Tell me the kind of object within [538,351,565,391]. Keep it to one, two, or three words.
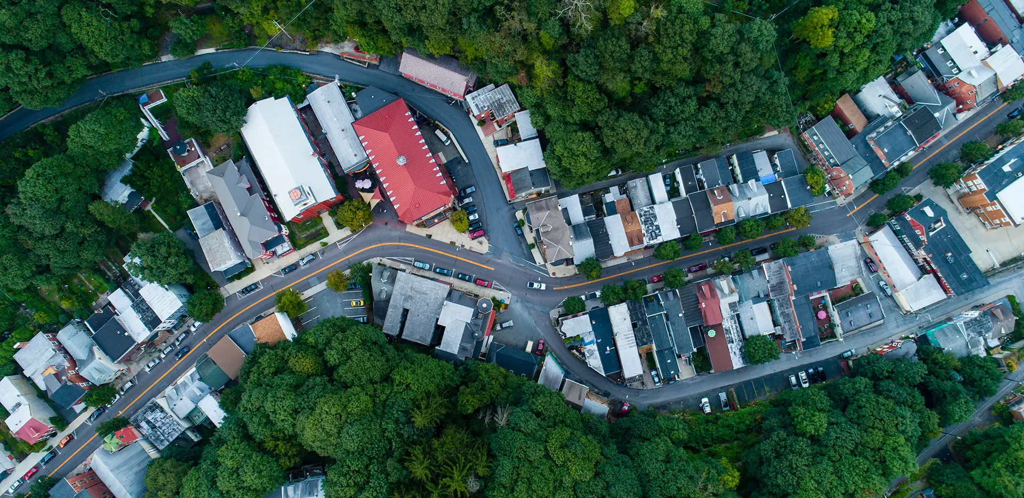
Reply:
shed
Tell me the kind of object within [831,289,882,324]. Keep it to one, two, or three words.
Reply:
building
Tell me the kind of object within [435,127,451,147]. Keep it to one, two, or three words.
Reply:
vehicle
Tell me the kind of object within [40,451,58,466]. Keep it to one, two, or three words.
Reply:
car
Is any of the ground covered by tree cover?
Yes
